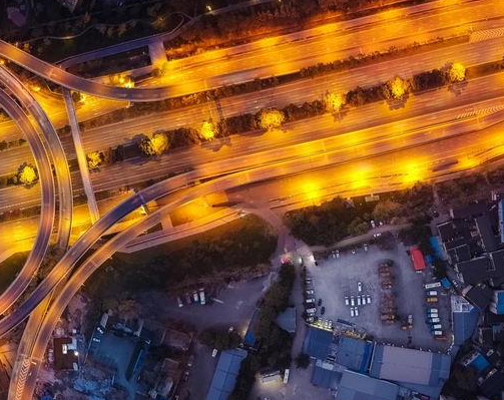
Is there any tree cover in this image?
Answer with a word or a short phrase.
Yes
